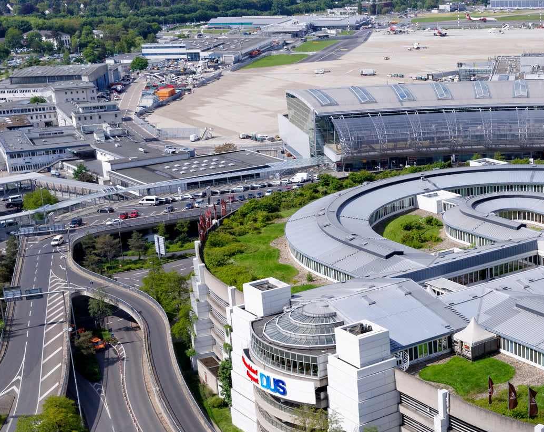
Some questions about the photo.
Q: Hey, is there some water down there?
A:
No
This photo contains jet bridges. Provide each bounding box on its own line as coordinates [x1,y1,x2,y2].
[422,70,459,83]
[455,58,463,70]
